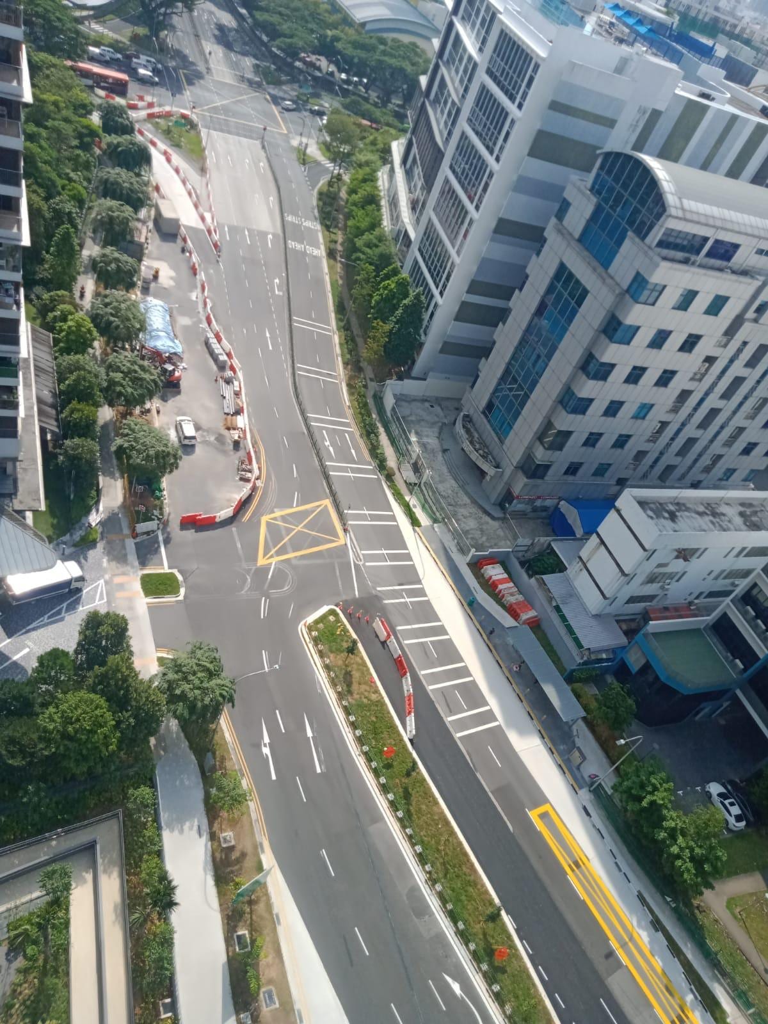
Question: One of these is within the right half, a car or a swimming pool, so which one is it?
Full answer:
It is a car that can be seen within the right half.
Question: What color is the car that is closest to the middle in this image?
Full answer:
In this view, the car that is closest to the middle is white.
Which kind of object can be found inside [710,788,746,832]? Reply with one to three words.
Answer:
car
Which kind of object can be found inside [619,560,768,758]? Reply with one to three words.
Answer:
building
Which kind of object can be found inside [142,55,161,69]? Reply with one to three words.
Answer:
car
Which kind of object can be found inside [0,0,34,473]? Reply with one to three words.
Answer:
building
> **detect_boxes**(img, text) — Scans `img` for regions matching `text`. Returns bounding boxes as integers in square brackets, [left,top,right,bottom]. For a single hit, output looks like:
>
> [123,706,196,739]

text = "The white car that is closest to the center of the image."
[175,420,195,447]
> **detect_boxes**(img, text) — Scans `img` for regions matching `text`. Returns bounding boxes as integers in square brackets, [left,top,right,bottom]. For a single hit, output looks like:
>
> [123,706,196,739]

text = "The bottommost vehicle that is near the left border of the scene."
[6,568,86,613]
